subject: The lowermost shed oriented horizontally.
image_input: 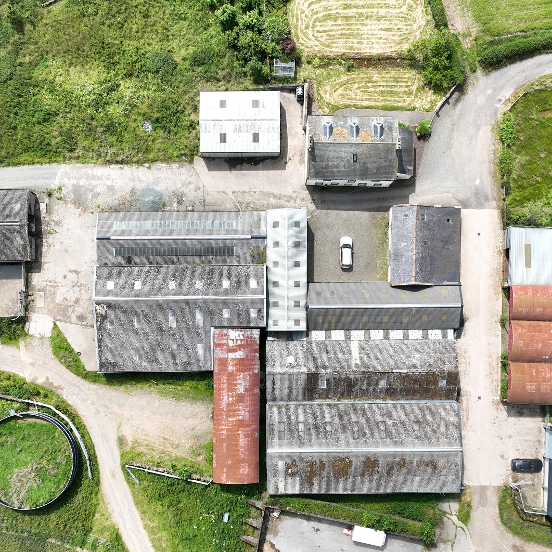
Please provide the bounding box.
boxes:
[266,402,464,495]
